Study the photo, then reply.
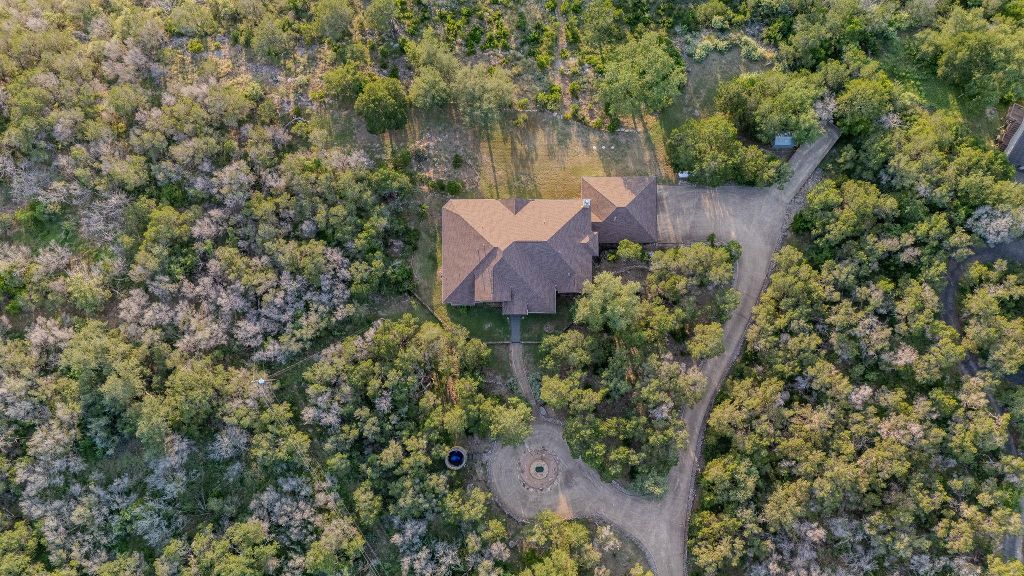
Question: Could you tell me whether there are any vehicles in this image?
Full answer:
No, no vehicle can be seen from above.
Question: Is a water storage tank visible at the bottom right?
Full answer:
No, there is no water storage tank at the bottom right.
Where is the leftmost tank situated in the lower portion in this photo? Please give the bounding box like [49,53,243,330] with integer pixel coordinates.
[444,445,468,470]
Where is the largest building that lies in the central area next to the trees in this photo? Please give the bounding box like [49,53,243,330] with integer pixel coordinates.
[442,198,598,315]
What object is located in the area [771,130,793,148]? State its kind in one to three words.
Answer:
shed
